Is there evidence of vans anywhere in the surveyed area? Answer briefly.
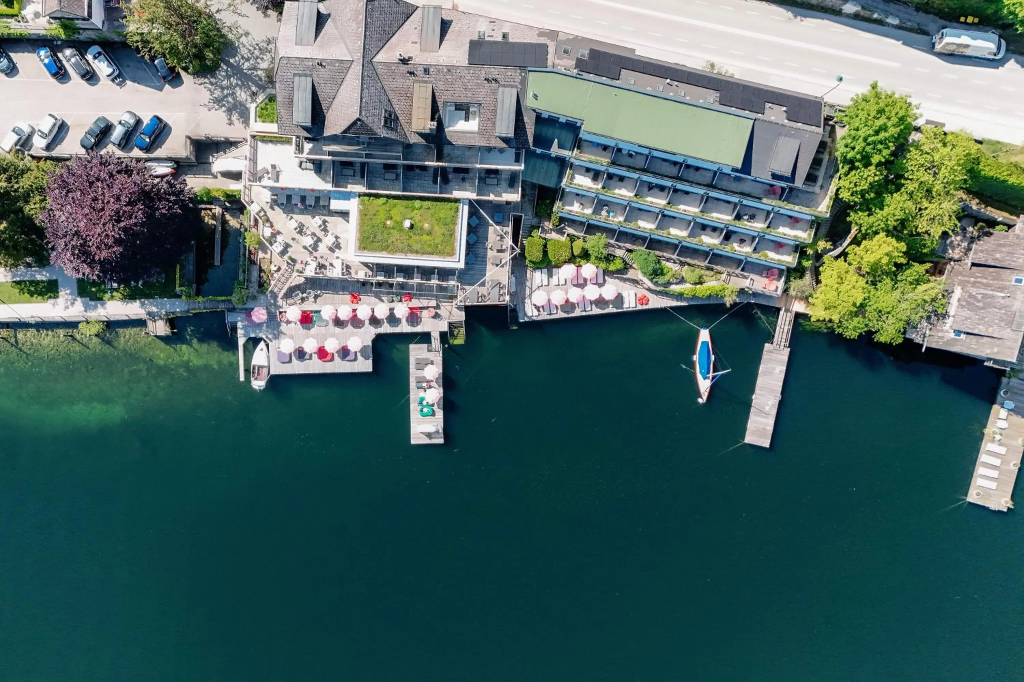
Yes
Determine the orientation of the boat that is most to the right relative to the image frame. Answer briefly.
vertically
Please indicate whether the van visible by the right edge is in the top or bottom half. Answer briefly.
top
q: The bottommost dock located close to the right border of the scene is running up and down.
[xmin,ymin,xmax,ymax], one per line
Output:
[966,377,1024,511]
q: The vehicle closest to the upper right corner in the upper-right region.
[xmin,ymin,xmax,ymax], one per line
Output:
[925,24,1002,62]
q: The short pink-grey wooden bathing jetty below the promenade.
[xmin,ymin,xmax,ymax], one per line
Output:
[145,319,174,336]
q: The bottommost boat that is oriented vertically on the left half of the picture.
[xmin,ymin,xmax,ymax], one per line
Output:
[251,341,270,392]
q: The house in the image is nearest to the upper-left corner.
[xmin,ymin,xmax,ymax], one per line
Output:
[42,0,116,33]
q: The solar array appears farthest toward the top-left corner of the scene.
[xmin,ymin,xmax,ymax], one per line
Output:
[468,39,547,67]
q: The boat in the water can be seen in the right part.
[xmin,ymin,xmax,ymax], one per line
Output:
[693,328,731,403]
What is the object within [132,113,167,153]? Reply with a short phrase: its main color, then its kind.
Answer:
blue car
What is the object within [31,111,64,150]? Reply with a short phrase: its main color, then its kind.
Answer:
white car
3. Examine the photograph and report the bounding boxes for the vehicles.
[78,113,111,149]
[31,111,64,150]
[925,24,1002,62]
[84,45,122,84]
[132,113,167,153]
[108,111,141,149]
[0,117,35,154]
[34,45,68,82]
[150,56,178,87]
[61,45,95,84]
